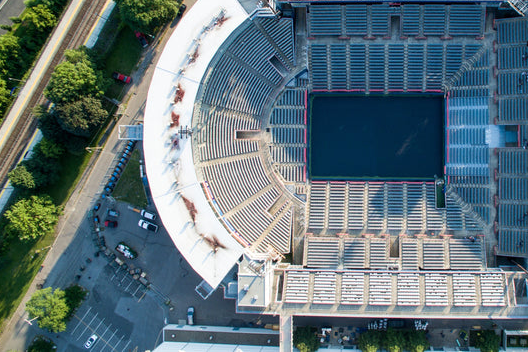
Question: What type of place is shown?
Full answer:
This image shows a sports ground.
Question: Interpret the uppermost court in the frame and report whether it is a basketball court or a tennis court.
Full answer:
Specifically, the uppermost court is a tennis court.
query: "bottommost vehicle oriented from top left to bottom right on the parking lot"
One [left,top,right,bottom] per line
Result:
[114,241,138,259]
